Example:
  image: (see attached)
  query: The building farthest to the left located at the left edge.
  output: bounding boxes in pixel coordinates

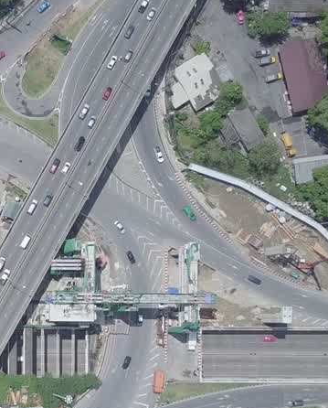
[0,198,22,219]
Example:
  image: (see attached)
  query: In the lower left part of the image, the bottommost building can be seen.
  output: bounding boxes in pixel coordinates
[42,302,96,321]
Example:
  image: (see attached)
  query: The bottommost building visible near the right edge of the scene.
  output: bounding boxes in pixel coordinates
[289,155,328,184]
